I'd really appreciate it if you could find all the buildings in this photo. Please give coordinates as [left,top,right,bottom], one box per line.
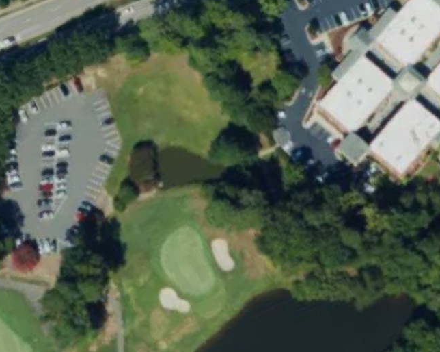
[319,0,440,177]
[273,127,290,147]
